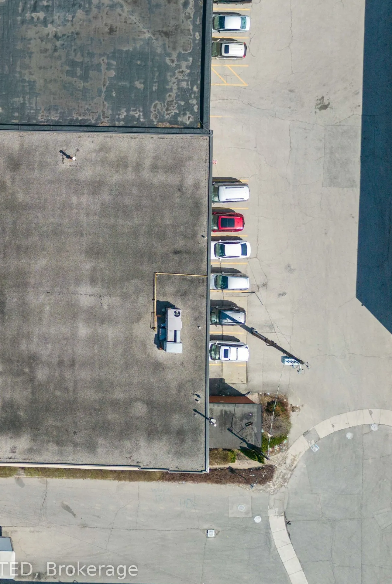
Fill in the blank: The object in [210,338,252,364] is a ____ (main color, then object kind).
white car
